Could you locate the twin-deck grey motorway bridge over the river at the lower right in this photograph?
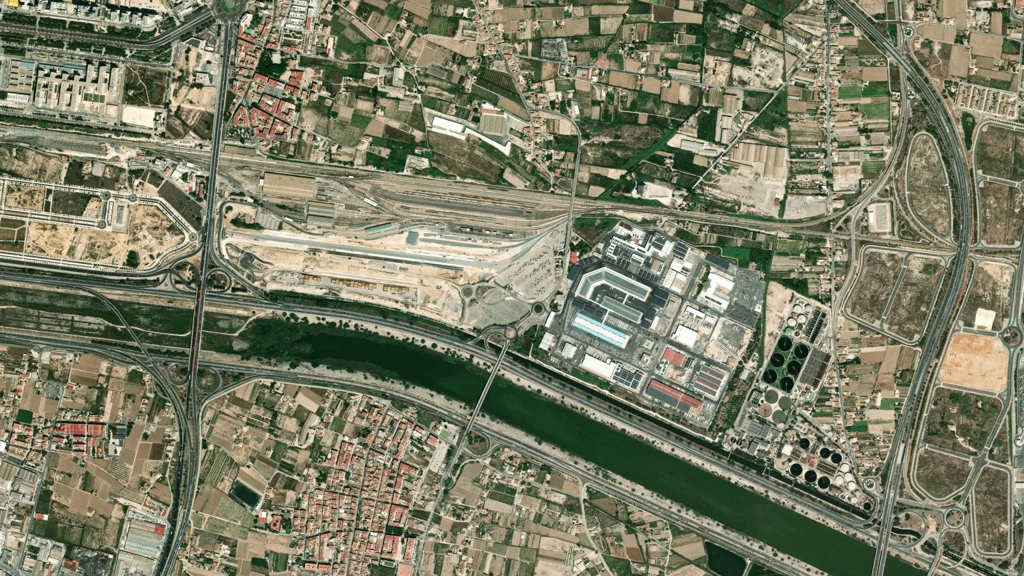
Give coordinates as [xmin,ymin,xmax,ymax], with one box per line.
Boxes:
[868,488,897,576]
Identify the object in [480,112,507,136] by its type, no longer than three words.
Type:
shed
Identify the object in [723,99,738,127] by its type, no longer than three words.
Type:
shed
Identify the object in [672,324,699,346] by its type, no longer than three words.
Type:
building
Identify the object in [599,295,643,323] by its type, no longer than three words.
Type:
building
